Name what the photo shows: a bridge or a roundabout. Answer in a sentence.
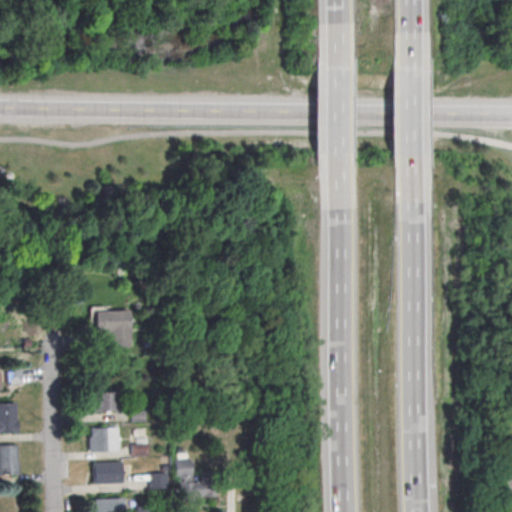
There is a bridge in the scene.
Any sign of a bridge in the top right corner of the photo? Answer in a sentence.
Yes, there is a bridge in the top right corner of the photo.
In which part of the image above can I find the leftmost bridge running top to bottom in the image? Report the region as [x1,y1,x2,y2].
[318,23,358,208]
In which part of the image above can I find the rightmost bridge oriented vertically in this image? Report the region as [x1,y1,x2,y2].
[394,23,433,208]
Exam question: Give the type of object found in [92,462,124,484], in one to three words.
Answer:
house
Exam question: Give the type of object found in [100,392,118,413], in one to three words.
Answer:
house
